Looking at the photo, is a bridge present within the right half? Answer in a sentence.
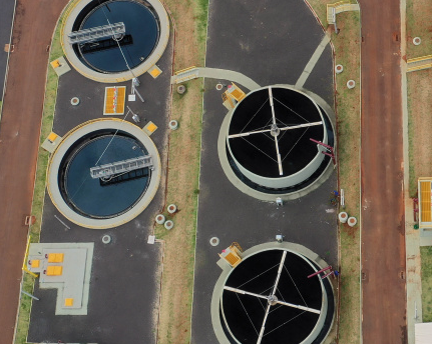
No, no bridge is visible within the right half.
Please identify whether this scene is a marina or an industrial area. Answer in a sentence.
This looks like an industrial area.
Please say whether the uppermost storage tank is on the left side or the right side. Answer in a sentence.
The uppermost storage tank appears in the left half of the scene.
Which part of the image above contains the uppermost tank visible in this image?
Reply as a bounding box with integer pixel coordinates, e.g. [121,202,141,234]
[61,0,171,84]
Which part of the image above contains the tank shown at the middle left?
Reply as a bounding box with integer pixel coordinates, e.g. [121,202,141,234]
[47,117,161,229]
